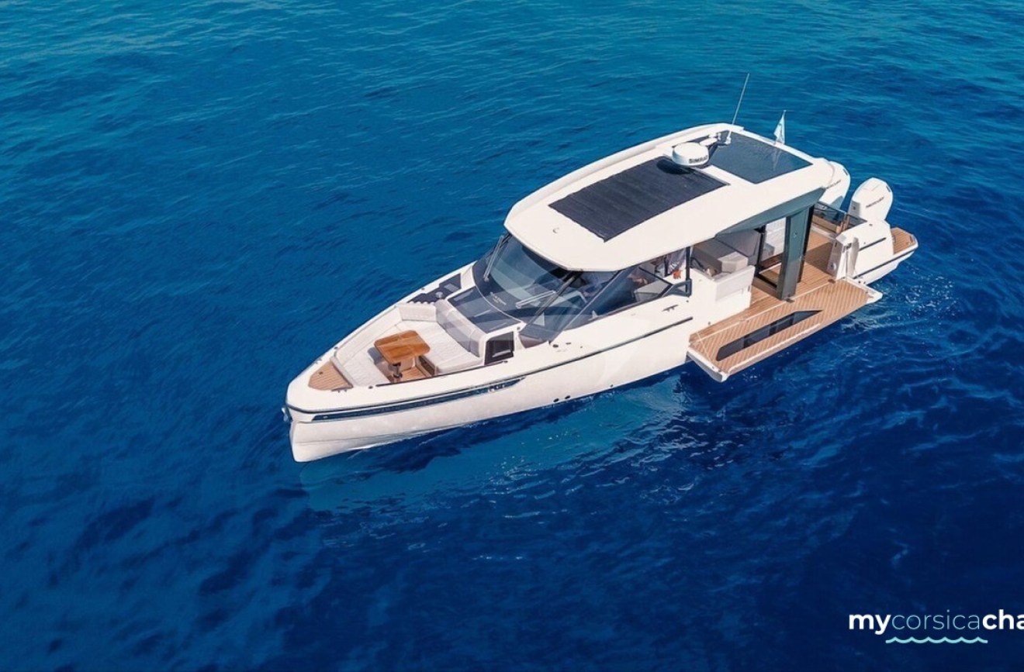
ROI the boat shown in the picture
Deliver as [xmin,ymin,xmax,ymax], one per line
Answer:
[279,74,917,462]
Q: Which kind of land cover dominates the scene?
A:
water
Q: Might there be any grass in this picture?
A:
No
